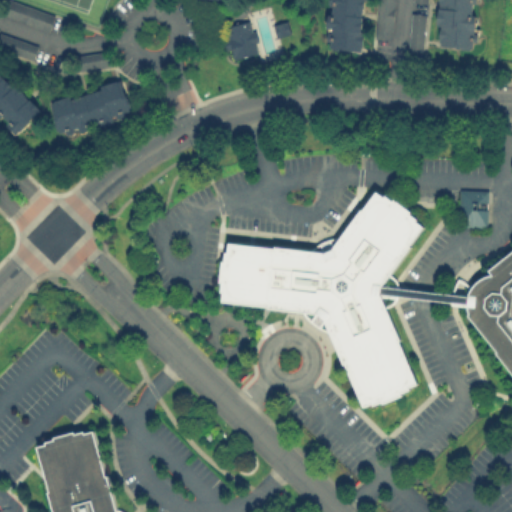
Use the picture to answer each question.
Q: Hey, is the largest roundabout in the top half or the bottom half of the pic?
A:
bottom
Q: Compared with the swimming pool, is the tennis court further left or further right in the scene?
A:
left of it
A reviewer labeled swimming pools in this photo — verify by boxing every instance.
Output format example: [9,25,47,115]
[253,8,282,59]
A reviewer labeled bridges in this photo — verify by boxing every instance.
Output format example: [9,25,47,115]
[384,288,477,310]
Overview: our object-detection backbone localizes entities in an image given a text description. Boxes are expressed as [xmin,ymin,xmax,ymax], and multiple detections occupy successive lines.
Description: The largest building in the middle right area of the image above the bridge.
[460,190,490,228]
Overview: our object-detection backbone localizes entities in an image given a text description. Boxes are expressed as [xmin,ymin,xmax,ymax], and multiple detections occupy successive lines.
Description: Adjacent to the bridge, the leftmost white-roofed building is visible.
[220,193,424,408]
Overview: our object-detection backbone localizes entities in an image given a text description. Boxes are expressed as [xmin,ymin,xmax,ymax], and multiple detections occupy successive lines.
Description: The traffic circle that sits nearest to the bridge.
[258,326,324,391]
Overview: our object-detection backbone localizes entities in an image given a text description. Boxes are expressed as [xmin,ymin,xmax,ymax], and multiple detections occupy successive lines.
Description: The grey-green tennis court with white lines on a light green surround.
[36,0,110,28]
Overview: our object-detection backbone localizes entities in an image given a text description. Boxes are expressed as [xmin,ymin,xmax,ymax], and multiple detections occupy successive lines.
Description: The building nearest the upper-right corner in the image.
[438,0,482,52]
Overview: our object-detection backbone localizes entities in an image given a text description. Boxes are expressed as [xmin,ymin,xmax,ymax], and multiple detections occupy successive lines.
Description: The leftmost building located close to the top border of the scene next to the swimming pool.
[226,22,260,62]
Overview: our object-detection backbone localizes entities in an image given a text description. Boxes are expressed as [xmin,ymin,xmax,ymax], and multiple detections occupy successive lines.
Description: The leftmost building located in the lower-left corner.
[36,431,117,512]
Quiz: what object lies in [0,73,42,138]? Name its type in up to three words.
building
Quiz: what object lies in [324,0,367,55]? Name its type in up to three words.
building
